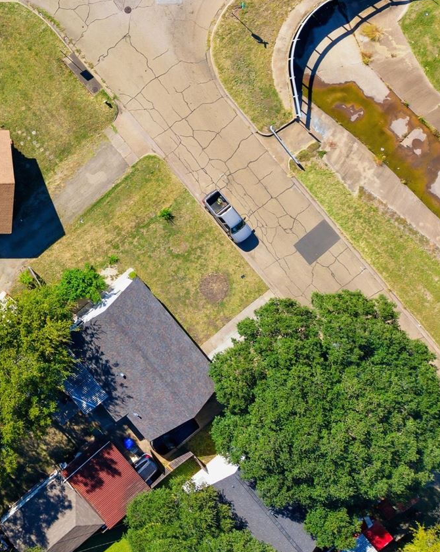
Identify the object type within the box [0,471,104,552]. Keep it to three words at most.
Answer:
house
